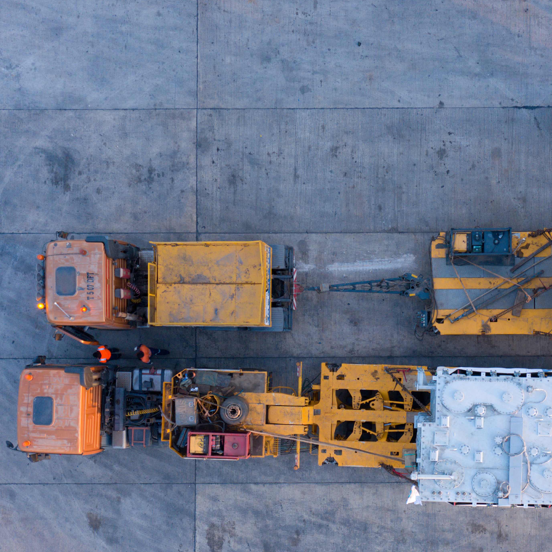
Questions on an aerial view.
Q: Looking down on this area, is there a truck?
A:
Yes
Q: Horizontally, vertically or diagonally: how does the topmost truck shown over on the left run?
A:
horizontally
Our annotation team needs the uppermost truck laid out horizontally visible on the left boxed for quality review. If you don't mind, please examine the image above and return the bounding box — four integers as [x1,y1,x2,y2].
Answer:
[31,231,304,344]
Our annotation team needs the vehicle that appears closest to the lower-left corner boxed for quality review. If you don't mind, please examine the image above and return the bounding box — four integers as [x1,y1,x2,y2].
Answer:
[4,355,220,461]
